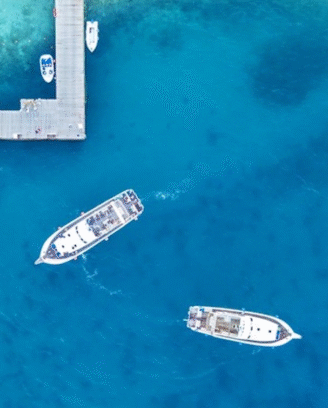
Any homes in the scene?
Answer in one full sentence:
No, there appears to be no home in this shot.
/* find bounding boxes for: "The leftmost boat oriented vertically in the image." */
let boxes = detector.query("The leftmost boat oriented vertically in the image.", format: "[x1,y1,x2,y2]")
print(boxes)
[40,54,54,83]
